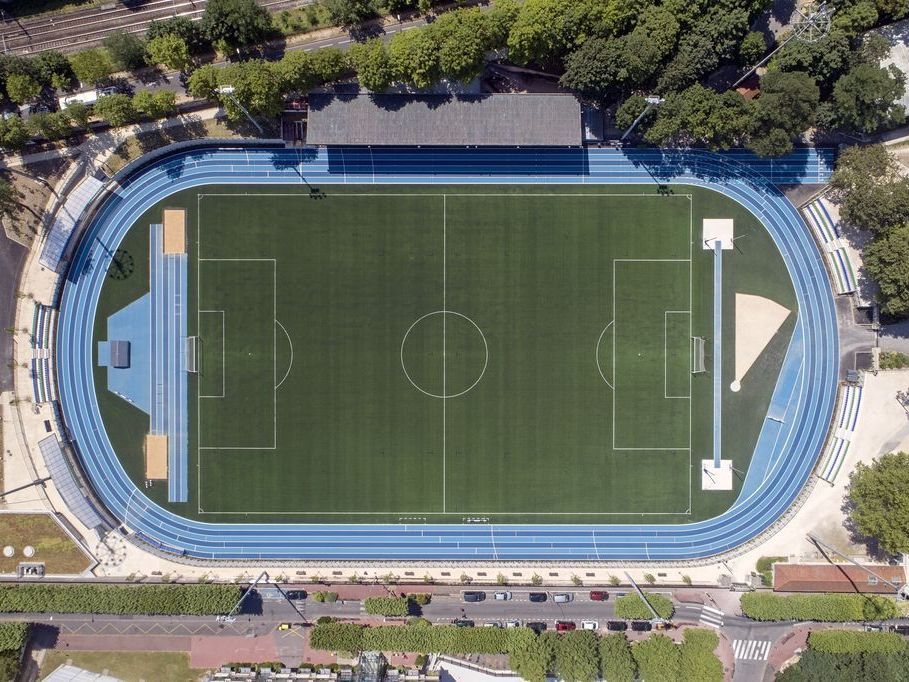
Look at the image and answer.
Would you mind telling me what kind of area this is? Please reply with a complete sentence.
This image shows a sports ground.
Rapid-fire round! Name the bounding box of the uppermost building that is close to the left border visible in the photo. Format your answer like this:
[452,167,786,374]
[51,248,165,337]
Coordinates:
[0,510,100,575]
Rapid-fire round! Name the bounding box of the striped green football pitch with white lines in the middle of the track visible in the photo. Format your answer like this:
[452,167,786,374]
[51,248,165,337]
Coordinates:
[196,192,693,524]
